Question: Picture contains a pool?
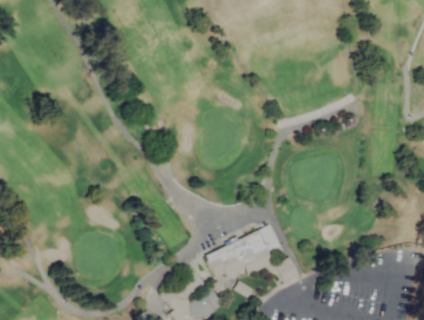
No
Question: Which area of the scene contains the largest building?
bottom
